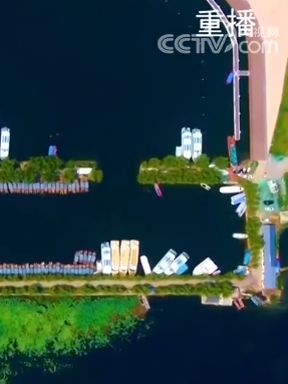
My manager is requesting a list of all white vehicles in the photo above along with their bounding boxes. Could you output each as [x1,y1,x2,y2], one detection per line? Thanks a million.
[268,179,279,195]
[263,206,274,212]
